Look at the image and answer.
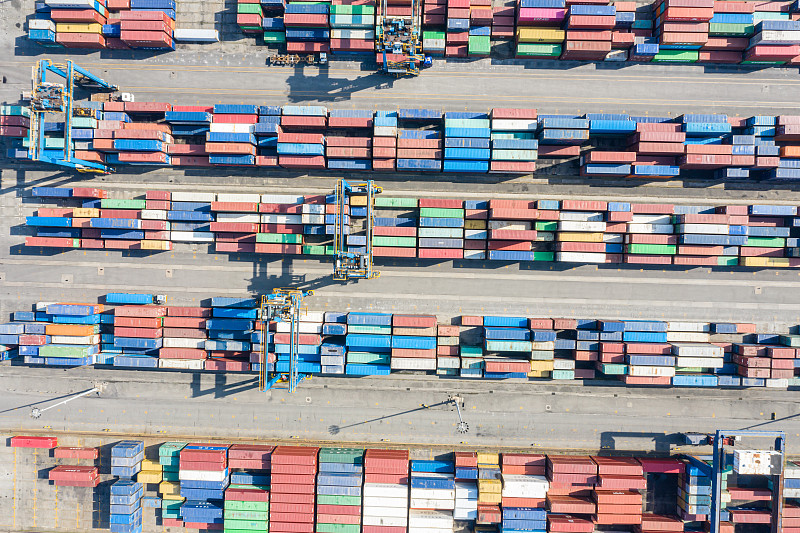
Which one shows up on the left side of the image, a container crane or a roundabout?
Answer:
container crane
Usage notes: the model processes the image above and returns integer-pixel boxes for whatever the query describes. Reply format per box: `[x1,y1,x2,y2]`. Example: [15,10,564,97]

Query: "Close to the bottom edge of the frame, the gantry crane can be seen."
[678,432,787,533]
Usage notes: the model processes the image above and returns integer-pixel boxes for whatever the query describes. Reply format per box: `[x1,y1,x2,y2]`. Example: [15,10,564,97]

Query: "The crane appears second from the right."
[377,0,422,81]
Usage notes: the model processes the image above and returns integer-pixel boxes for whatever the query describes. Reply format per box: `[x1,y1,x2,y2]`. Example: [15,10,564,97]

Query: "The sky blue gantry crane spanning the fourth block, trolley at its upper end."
[259,281,317,397]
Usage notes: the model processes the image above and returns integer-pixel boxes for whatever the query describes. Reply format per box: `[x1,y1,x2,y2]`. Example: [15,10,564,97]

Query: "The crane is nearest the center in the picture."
[335,176,385,284]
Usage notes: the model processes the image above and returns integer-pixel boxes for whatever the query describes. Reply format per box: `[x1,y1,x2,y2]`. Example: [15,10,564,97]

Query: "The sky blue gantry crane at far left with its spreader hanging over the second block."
[38,56,123,181]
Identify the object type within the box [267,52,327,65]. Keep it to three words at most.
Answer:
vehicle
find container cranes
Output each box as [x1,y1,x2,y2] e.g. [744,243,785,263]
[259,281,317,397]
[678,432,787,533]
[377,0,422,81]
[335,176,385,284]
[38,56,123,181]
